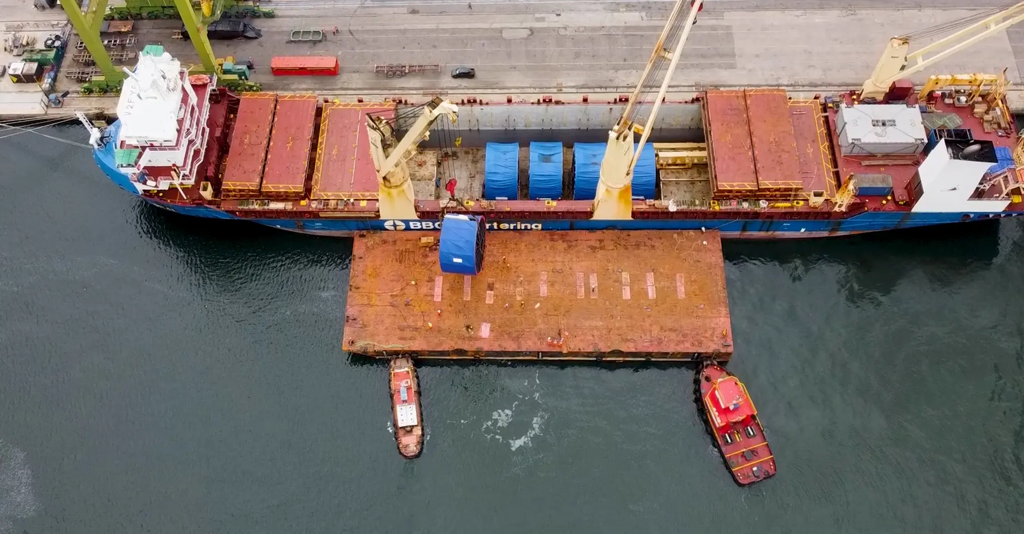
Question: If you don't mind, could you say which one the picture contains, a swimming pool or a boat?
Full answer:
This aerial view contains a boat.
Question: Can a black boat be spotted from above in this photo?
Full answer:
No, the frame has no black boat in it.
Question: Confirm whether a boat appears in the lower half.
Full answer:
Yes, you'll find a boat in the lower half.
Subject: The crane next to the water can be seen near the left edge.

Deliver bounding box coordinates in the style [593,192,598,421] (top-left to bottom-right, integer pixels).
[51,0,288,93]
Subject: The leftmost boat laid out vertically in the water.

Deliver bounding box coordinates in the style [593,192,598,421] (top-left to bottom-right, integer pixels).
[390,356,424,462]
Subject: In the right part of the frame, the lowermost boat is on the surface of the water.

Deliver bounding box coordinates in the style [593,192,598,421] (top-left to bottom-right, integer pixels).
[692,355,781,488]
